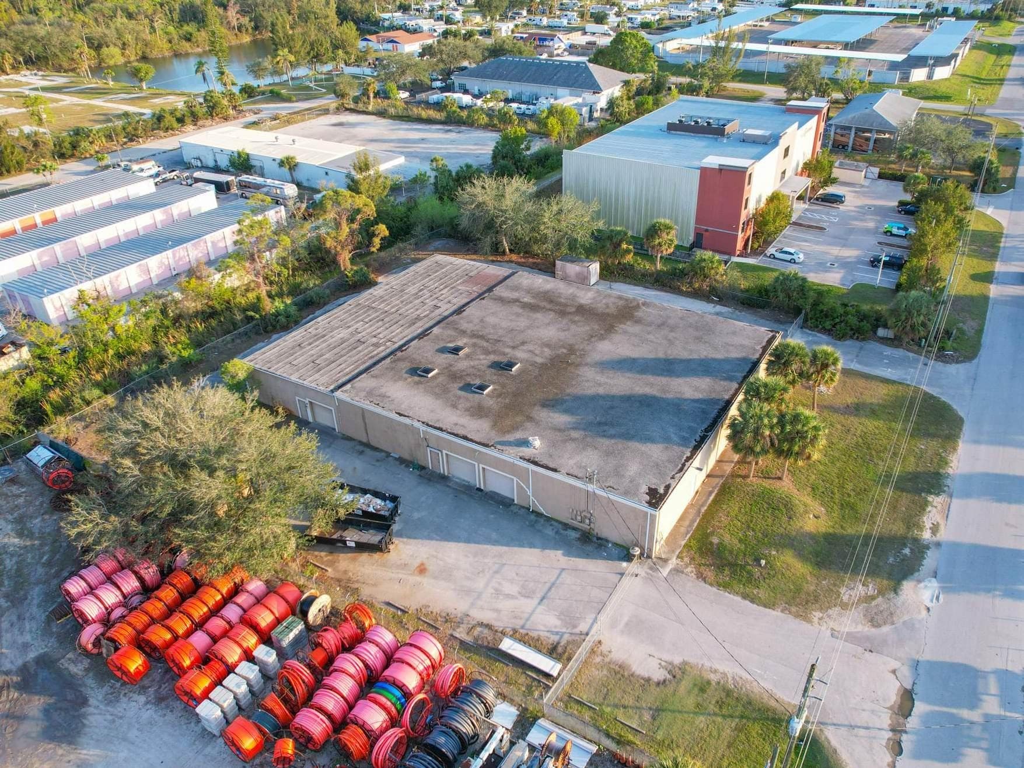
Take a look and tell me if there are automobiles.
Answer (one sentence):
Yes, this view includes an automobile.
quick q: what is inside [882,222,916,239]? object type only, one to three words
car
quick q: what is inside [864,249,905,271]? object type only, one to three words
car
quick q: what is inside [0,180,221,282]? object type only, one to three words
building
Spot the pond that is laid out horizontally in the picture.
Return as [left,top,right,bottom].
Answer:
[90,39,374,92]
